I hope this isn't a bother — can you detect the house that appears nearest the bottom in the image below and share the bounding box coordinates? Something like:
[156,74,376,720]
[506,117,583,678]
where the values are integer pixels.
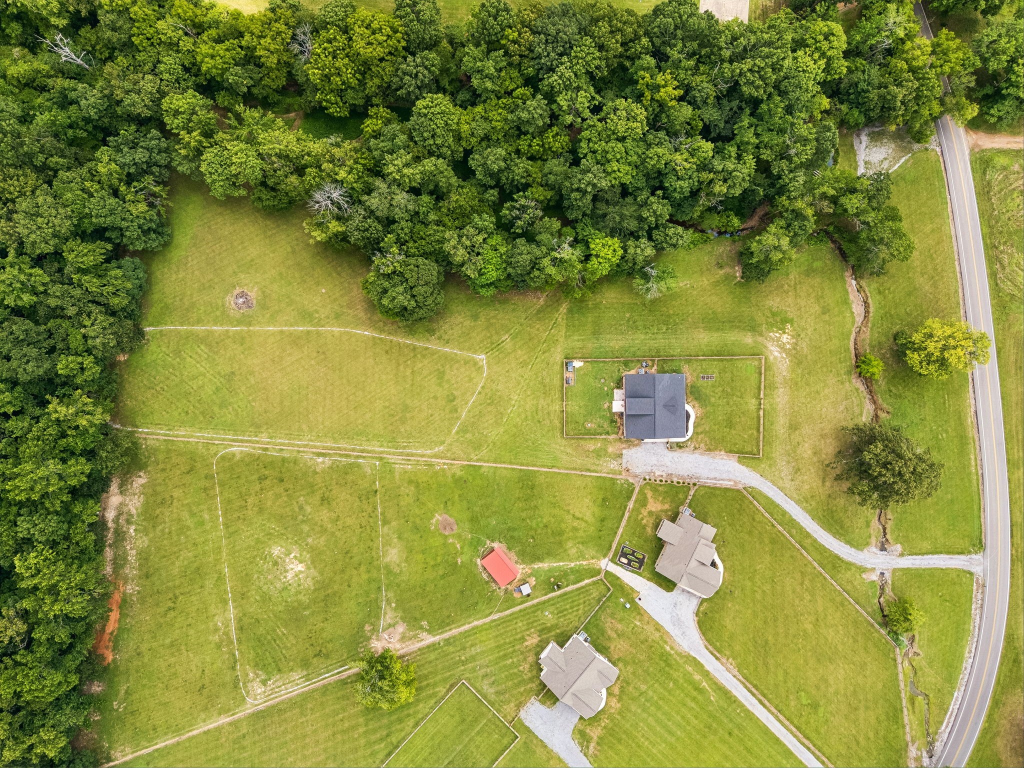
[538,633,620,720]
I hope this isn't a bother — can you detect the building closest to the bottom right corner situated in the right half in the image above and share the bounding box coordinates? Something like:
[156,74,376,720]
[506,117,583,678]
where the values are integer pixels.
[654,513,721,598]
